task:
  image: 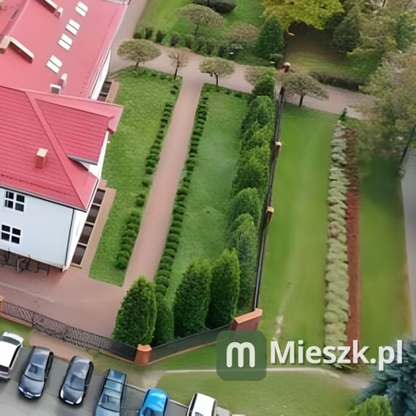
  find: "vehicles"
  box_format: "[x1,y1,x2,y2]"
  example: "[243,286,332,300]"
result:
[14,345,59,403]
[182,385,221,416]
[54,353,99,411]
[137,384,176,416]
[89,367,133,416]
[0,333,27,385]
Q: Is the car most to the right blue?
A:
No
